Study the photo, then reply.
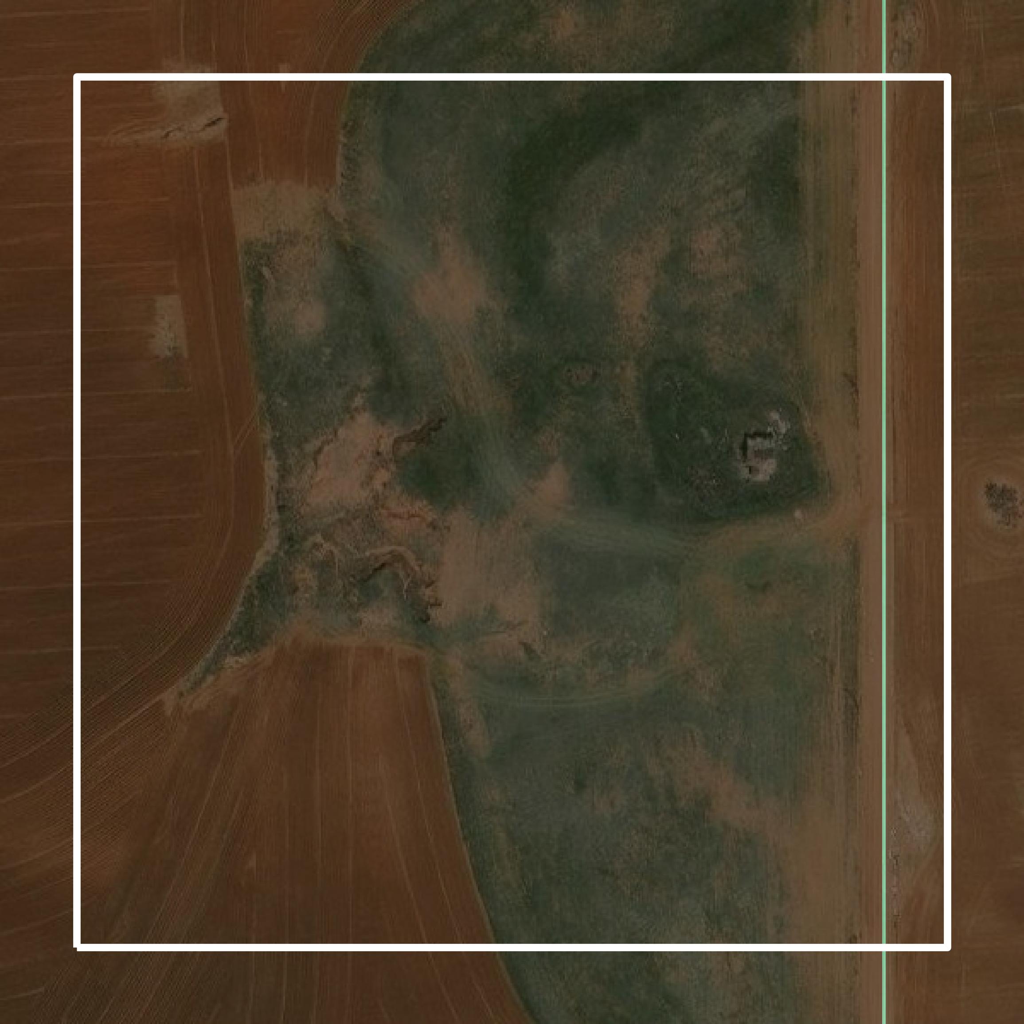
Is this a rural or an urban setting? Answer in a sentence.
From above, the setting appears rural.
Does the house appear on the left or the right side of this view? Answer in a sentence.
You can find the house on the right side of the picture.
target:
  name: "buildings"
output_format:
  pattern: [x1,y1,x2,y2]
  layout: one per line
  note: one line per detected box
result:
[736,437,777,482]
